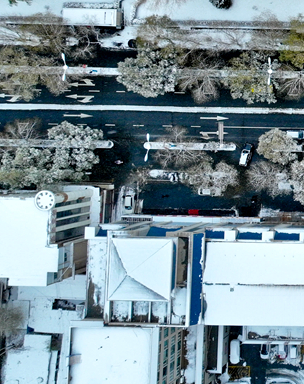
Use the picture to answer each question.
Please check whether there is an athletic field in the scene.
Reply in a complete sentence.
No, the picture doesn't show any athletic field.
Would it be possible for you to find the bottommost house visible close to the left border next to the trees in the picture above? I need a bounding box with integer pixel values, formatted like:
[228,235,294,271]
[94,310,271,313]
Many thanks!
[6,343,65,384]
